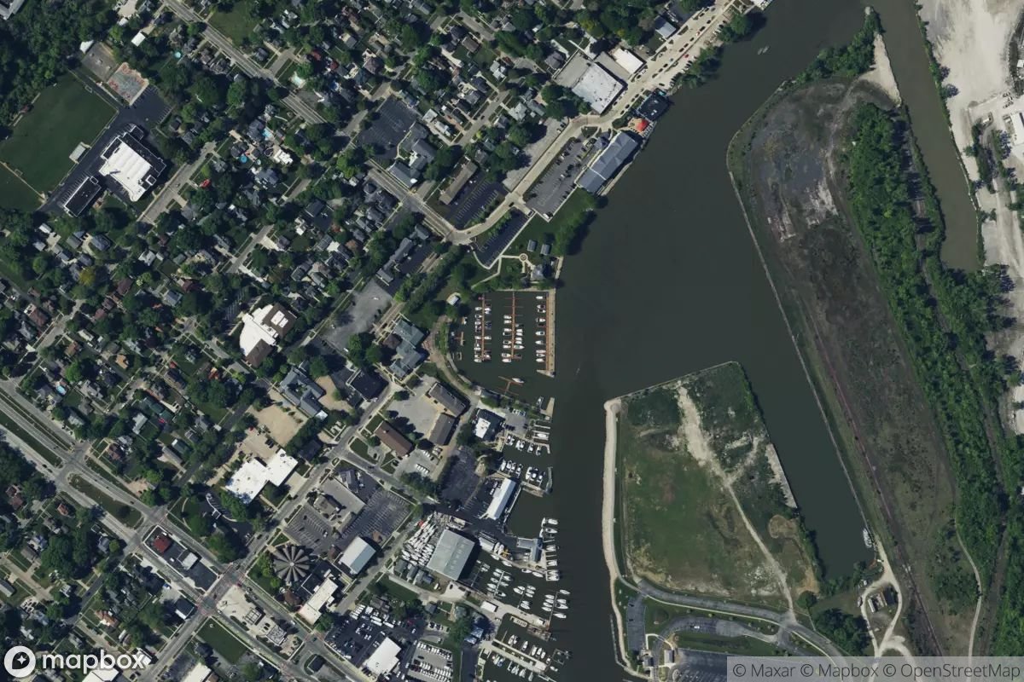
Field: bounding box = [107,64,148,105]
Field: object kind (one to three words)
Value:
sports court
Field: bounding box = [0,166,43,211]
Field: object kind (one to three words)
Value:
sports field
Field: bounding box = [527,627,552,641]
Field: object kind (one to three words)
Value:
ship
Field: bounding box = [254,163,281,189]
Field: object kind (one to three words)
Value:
house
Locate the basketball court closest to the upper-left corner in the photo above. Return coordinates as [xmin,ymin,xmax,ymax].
[82,42,119,81]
